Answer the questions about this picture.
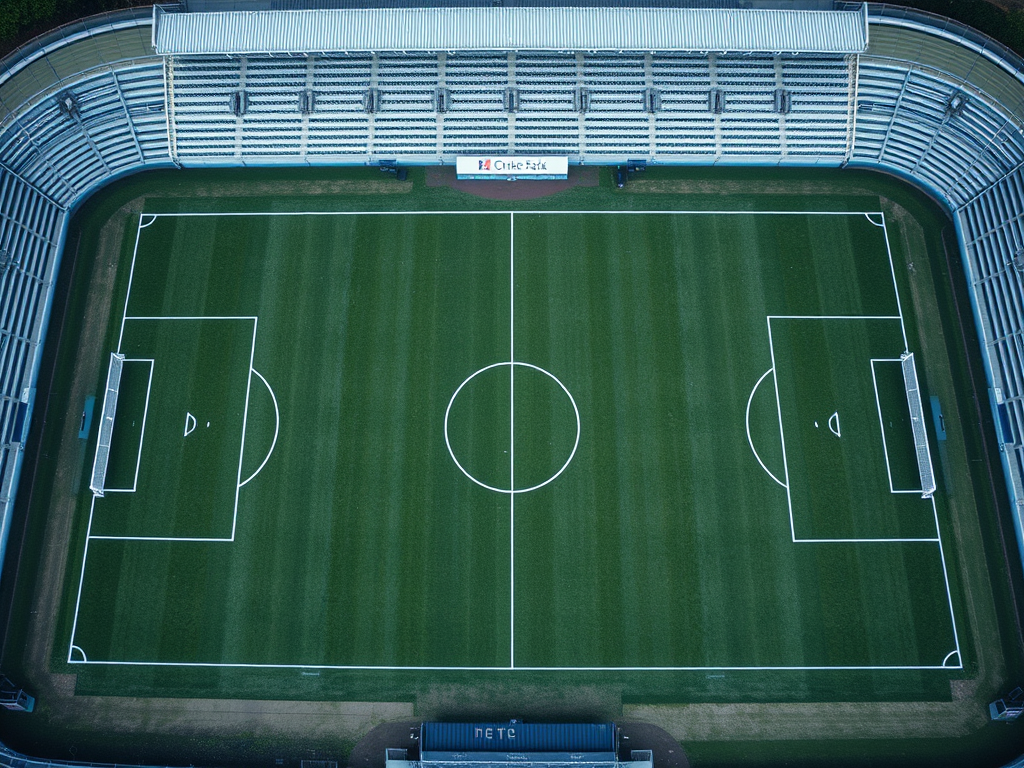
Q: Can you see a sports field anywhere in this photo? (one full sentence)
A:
Yes, this view includes a sports field.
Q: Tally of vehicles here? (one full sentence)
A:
There are no vehicles in this view.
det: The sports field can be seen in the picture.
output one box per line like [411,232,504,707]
[64,211,962,669]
